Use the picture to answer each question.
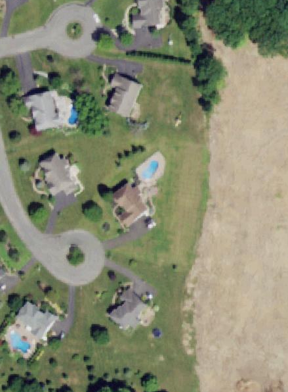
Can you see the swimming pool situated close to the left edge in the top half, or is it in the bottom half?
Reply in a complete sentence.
The bottom half of the photo is where the swimming pool situated close to the left edge is.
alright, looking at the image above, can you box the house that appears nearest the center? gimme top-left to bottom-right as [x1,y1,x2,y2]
[110,182,152,230]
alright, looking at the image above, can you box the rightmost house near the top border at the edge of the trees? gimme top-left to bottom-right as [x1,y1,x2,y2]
[131,0,166,30]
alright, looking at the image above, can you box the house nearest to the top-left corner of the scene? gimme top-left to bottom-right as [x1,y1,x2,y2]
[22,91,63,134]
